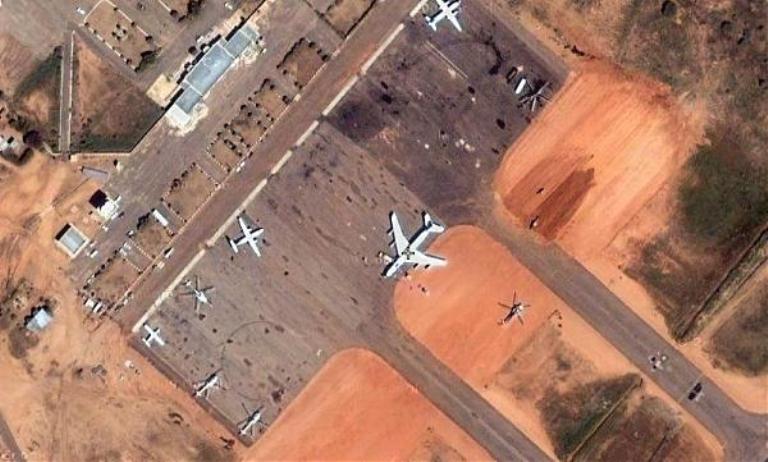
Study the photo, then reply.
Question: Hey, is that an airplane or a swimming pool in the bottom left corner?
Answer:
airplane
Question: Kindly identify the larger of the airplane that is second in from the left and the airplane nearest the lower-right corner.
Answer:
the airplane nearest the lower-right corner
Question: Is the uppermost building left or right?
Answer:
left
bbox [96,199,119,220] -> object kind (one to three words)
building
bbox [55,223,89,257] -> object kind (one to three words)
building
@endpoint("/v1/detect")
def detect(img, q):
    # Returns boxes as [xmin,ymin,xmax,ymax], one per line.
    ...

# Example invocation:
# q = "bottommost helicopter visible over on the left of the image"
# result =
[238,406,268,435]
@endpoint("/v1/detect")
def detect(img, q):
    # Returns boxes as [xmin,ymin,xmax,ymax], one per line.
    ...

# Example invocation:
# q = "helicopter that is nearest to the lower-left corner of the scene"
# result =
[194,370,225,399]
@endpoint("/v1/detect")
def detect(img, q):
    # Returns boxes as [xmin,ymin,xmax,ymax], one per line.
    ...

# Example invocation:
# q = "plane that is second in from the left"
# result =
[229,217,262,256]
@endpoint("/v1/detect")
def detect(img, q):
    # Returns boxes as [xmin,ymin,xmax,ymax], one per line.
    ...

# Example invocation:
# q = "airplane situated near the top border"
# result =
[425,0,462,30]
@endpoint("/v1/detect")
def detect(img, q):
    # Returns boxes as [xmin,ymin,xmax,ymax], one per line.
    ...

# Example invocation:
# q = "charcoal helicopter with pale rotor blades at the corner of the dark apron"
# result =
[519,81,548,111]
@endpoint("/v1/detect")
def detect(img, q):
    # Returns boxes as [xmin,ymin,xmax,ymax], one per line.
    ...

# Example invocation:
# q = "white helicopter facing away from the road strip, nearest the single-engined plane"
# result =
[184,278,214,306]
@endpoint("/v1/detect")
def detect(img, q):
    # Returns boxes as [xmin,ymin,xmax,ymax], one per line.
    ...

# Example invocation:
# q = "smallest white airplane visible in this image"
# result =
[142,326,163,346]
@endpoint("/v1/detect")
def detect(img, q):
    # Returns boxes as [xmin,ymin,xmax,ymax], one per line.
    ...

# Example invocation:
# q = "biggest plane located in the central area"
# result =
[385,212,448,277]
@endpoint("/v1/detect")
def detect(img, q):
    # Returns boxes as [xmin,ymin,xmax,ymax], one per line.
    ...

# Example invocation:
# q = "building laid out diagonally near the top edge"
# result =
[166,22,260,127]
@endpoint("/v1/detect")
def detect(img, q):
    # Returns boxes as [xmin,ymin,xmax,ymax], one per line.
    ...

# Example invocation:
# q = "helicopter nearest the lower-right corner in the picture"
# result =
[500,292,530,321]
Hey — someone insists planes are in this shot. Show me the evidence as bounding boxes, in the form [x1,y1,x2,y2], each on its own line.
[425,0,462,30]
[229,217,262,256]
[142,326,163,346]
[385,212,448,277]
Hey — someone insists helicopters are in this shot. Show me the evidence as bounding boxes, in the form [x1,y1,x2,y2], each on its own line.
[184,278,214,306]
[194,370,225,399]
[238,406,268,435]
[519,81,548,111]
[500,292,530,321]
